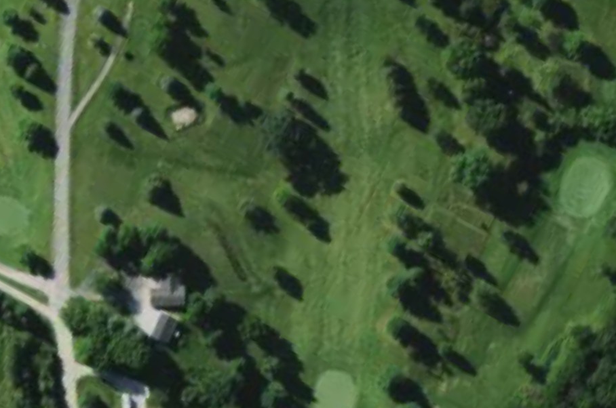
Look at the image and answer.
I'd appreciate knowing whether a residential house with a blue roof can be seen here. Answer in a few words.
No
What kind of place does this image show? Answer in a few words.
golf course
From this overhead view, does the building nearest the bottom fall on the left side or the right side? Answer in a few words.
left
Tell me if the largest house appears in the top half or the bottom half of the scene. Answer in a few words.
bottom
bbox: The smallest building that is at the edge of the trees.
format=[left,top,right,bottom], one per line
[151,309,178,344]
